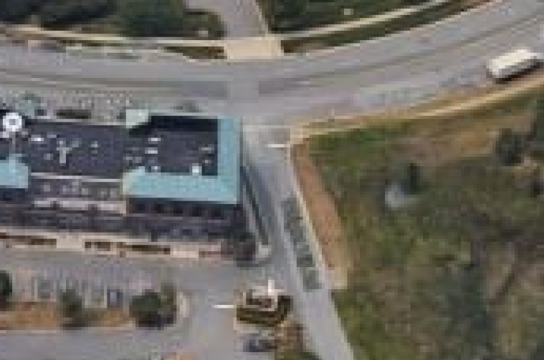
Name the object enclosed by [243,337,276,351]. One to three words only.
car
